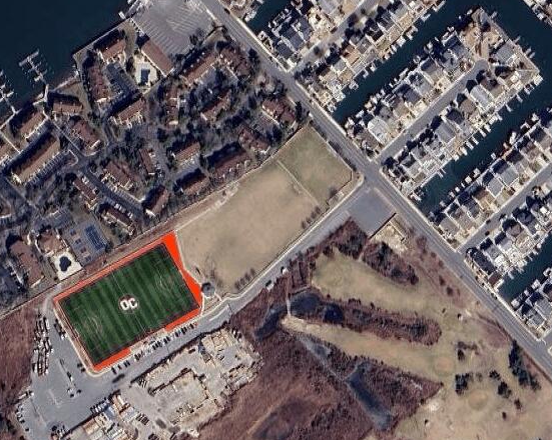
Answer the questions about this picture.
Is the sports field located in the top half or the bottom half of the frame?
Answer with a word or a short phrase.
bottom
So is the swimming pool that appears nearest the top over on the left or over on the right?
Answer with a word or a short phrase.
left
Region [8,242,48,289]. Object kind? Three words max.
building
